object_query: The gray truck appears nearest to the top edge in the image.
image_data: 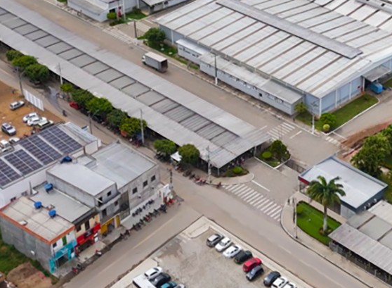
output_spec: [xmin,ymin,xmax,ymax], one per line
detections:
[139,51,166,72]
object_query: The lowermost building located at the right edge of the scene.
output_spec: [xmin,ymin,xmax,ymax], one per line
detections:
[298,153,391,219]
